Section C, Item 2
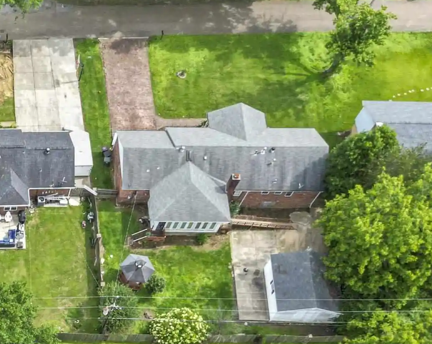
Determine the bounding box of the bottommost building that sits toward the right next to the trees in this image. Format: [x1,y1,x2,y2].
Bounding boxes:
[259,242,340,322]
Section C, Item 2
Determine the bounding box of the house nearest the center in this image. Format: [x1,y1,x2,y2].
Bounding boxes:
[112,93,332,244]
